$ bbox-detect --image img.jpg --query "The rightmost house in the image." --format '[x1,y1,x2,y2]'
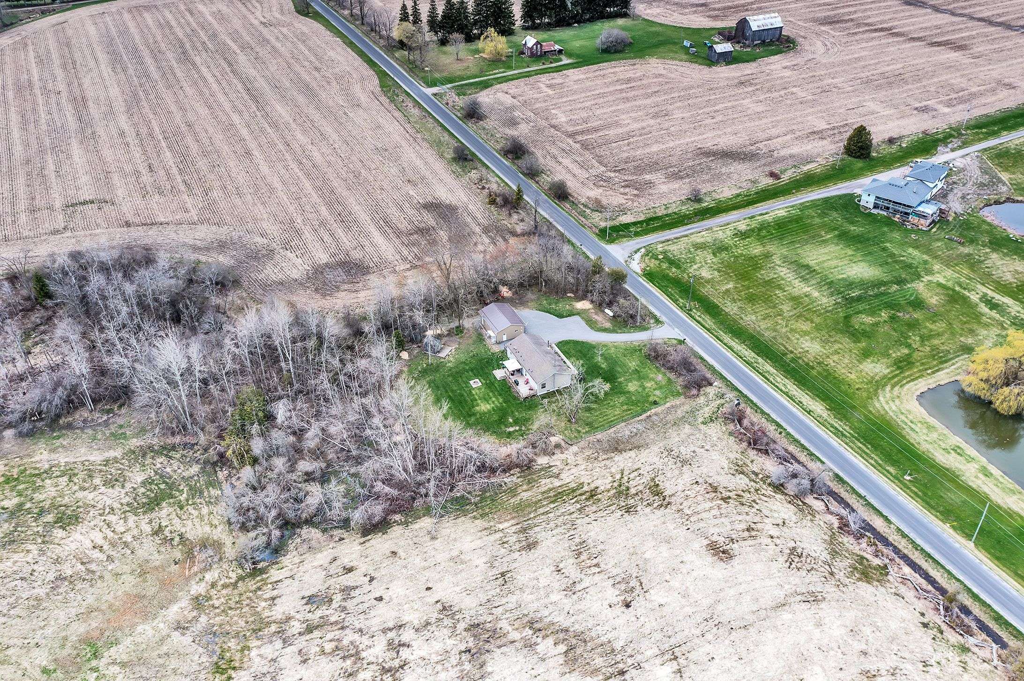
[861,161,950,223]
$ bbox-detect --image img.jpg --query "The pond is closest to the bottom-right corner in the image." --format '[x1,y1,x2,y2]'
[917,374,1024,491]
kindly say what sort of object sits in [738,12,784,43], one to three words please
barn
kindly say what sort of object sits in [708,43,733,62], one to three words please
shed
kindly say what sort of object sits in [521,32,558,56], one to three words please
house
